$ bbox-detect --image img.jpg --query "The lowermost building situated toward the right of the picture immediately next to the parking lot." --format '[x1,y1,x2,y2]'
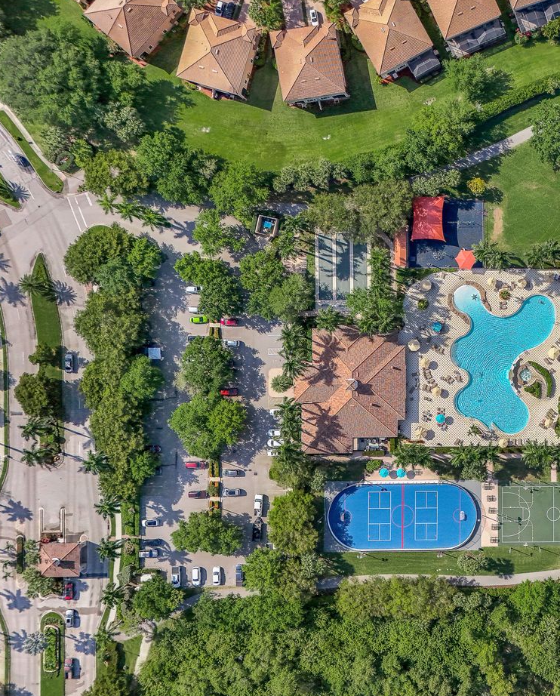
[294,328,405,453]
